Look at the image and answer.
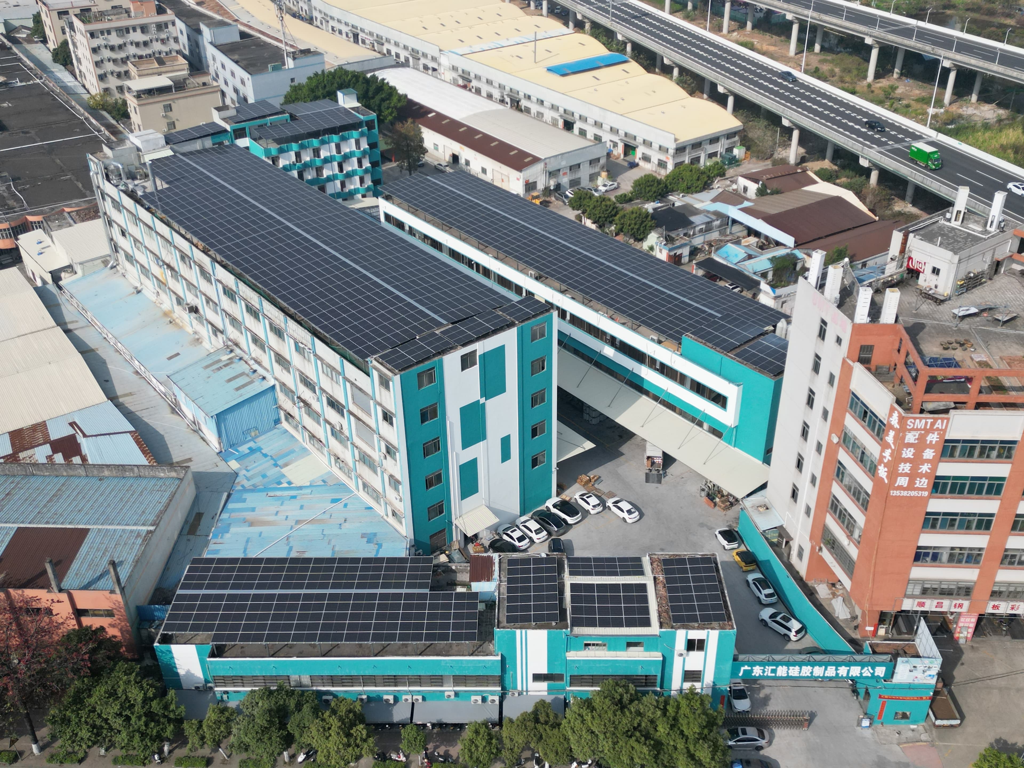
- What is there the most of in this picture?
buildings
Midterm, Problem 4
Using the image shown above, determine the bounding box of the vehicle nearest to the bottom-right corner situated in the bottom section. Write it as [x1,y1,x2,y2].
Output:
[934,673,963,728]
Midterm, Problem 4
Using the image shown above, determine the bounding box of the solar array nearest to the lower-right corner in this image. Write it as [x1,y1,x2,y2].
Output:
[661,555,728,628]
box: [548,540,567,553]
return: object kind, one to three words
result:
vehicle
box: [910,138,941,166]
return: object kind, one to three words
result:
truck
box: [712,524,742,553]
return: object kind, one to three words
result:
car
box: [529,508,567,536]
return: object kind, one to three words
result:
car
